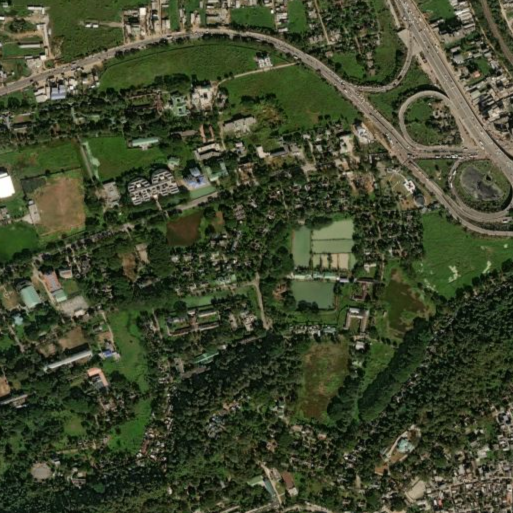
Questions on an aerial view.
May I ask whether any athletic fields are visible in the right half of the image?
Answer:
No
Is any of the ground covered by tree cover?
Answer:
Yes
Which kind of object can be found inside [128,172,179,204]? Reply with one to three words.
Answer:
building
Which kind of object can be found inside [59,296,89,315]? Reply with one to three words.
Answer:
building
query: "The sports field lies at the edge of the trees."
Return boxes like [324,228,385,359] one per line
[38,175,85,236]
